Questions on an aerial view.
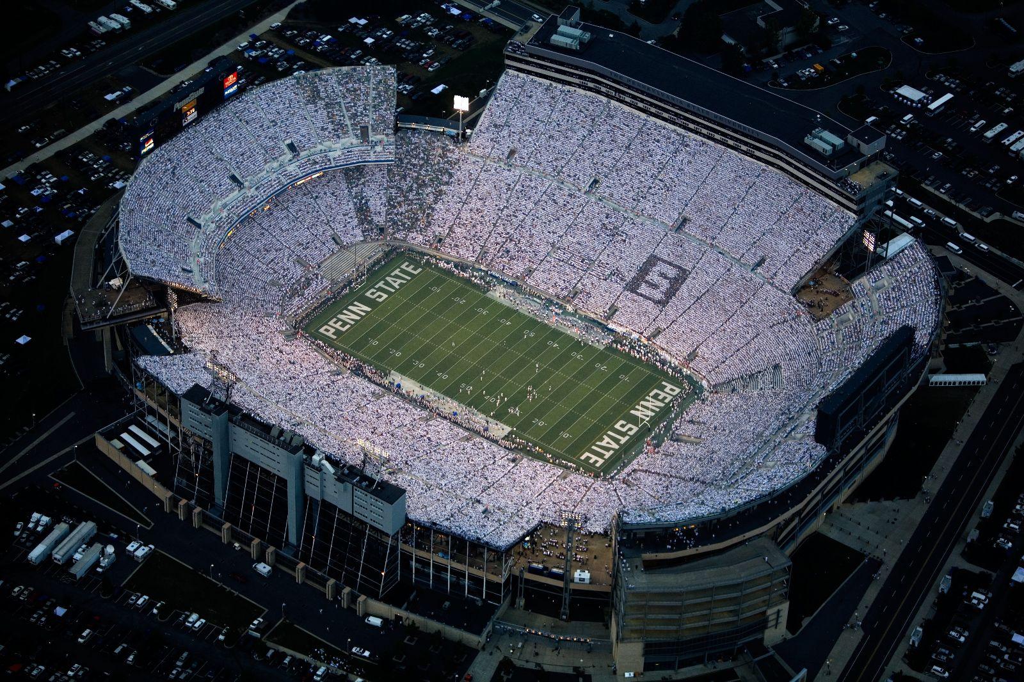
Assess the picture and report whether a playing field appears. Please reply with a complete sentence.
Yes, the image includes a playing field.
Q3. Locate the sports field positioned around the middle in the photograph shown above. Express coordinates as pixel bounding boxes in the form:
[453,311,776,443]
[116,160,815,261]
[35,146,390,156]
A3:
[305,254,693,476]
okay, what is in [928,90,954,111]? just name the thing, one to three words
bus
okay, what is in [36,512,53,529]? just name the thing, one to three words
vehicle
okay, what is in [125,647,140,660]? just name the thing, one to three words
vehicle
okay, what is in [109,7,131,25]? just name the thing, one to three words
camper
